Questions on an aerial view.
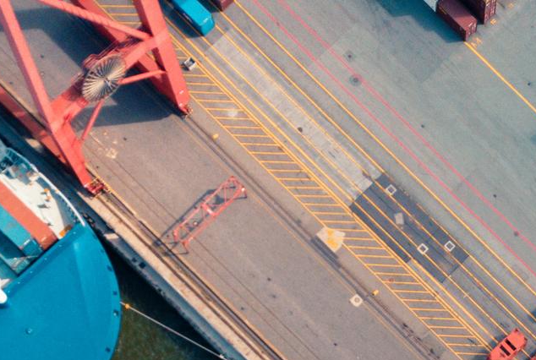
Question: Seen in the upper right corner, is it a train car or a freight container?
freight container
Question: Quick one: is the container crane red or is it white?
red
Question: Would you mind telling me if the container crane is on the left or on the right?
left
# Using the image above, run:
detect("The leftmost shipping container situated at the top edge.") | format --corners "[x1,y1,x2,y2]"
[169,0,217,36]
